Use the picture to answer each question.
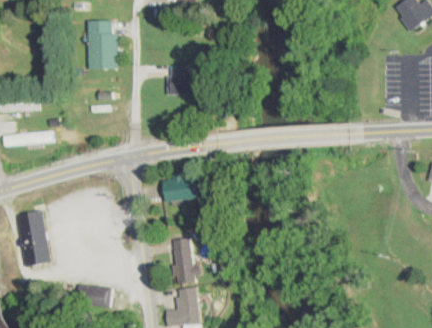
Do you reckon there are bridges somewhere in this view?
Yes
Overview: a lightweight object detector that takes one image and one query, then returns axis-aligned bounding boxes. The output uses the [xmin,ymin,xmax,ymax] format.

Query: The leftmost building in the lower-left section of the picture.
[18,212,52,266]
